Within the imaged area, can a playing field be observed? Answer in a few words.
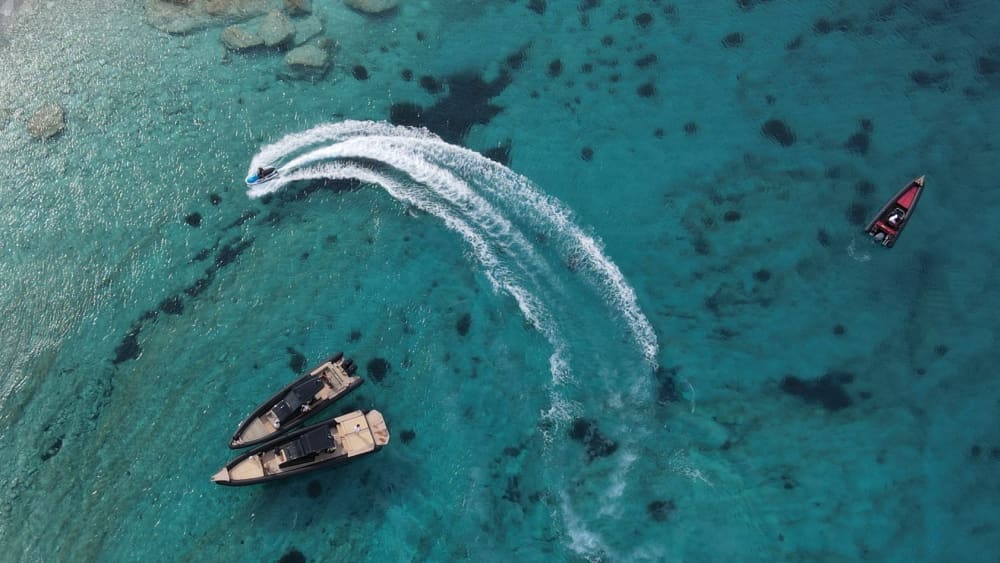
No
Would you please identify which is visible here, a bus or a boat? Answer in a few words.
boat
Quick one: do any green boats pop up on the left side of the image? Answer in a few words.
No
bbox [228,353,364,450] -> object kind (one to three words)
boat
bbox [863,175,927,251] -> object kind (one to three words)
boat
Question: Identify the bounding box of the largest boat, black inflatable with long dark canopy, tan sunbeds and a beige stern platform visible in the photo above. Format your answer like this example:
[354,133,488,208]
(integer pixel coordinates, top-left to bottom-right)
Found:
[209,409,390,484]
